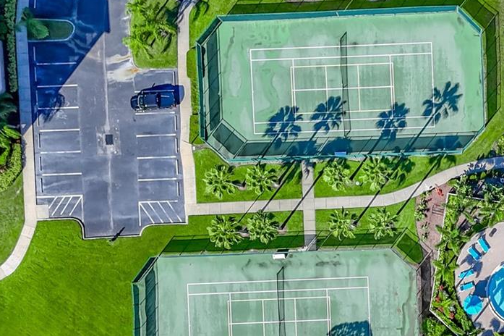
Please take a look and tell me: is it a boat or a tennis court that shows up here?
tennis court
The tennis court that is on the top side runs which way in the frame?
from side to side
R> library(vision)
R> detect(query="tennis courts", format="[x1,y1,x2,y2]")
[201,10,486,163]
[137,248,420,336]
